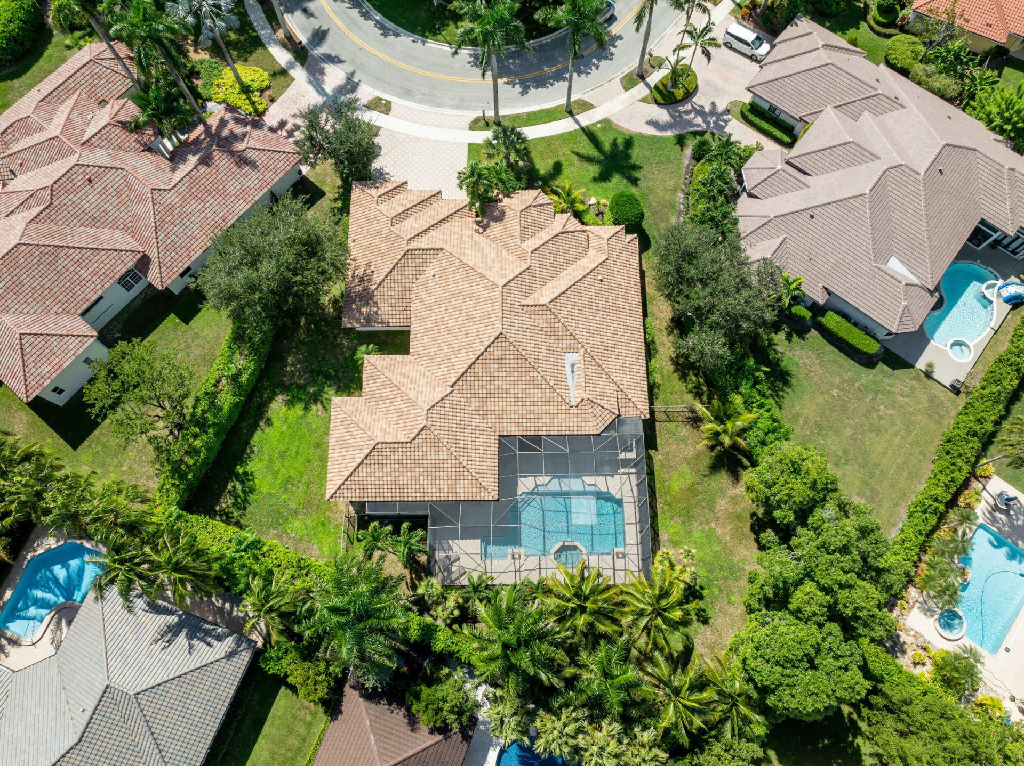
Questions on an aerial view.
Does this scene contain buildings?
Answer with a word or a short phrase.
Yes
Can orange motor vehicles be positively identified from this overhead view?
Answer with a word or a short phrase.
No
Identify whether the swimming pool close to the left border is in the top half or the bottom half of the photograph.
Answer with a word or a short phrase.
bottom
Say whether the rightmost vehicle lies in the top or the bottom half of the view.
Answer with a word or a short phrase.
top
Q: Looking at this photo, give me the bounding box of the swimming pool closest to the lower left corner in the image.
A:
[0,538,120,643]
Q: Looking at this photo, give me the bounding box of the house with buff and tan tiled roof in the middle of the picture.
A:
[325,178,650,502]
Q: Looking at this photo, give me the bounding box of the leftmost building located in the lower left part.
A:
[0,573,258,766]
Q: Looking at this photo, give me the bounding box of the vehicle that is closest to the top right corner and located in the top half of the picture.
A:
[720,19,773,61]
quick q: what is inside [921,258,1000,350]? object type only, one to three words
swimming pool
